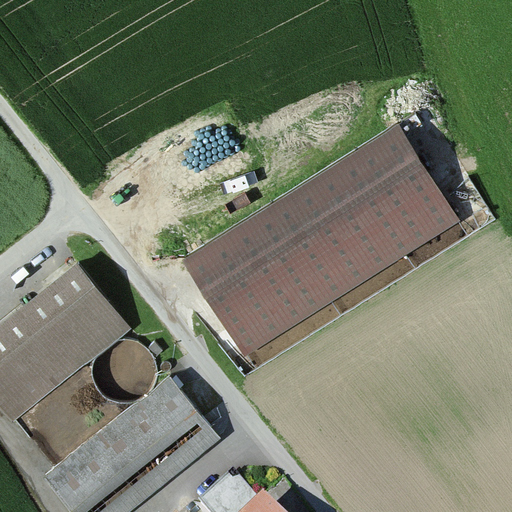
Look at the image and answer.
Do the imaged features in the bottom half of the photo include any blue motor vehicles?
Yes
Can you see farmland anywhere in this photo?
Yes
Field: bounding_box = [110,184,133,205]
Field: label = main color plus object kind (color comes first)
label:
green work vehicle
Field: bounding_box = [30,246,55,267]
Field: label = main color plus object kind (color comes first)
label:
white vehicle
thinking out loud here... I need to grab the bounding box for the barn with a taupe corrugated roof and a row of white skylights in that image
[0,262,133,420]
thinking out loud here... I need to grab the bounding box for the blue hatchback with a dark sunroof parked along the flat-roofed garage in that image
[196,475,216,494]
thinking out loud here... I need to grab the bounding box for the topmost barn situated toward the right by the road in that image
[184,123,459,354]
